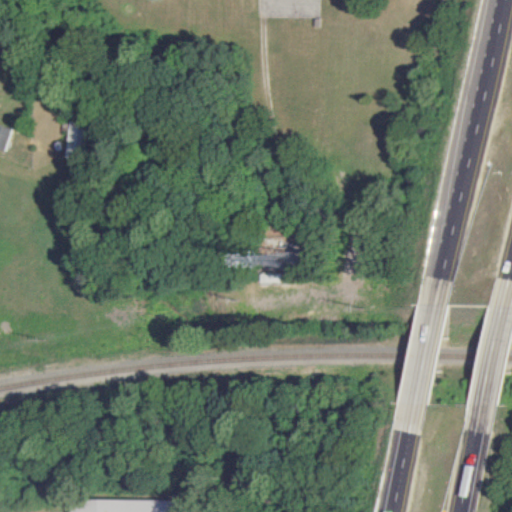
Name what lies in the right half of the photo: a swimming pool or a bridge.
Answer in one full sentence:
The one visible in the right half of the photo is a bridge.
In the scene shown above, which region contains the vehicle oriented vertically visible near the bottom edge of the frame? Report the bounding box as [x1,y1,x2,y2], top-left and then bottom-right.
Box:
[459,452,474,498]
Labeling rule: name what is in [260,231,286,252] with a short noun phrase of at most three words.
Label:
shed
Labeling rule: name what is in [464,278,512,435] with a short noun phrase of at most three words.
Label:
bridge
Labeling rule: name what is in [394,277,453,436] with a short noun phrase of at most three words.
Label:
bridge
